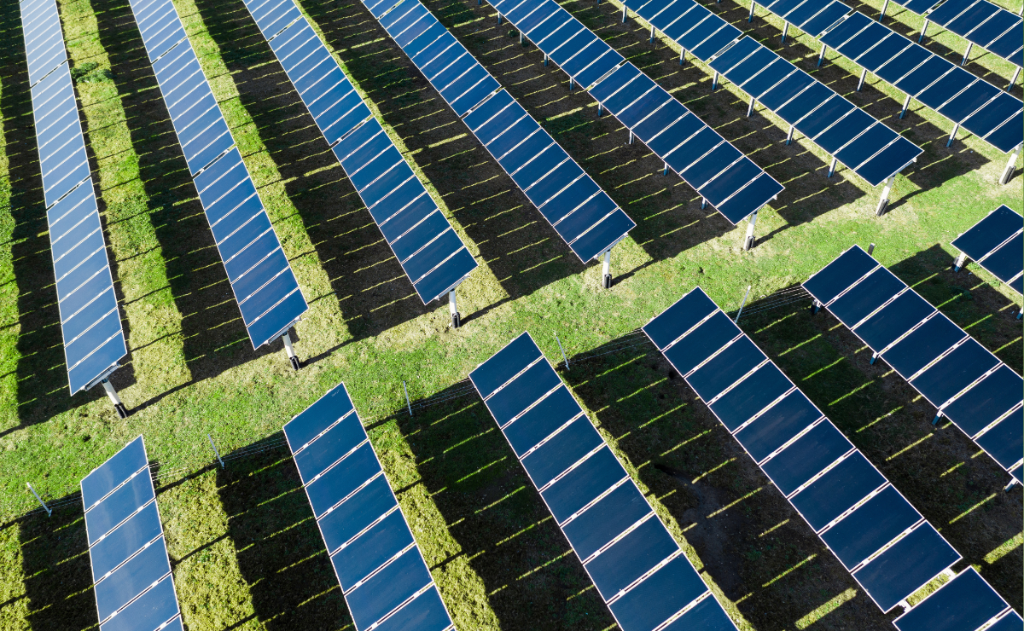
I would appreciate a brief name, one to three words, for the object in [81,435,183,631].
solar array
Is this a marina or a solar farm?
solar farm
